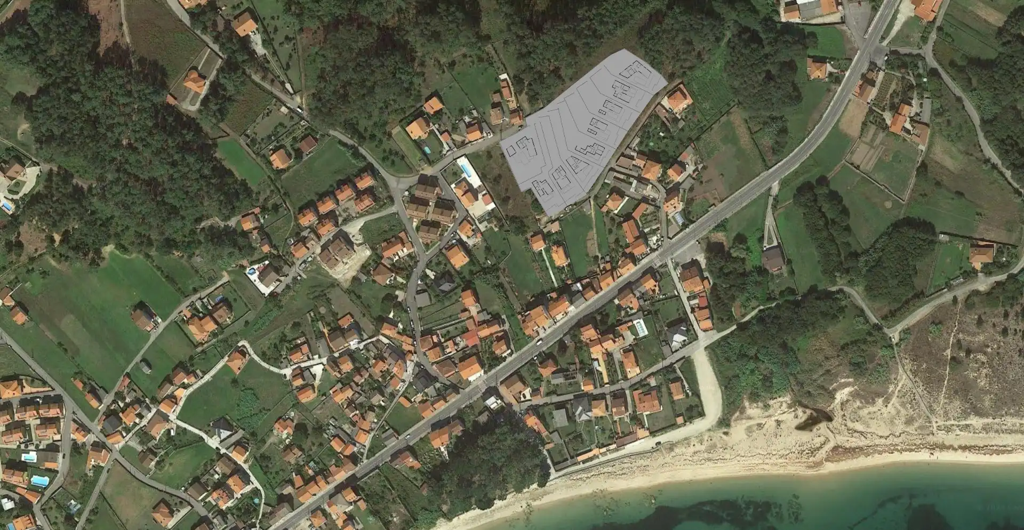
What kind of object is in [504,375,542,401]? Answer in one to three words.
house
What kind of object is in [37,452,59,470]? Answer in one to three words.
building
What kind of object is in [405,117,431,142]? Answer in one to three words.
house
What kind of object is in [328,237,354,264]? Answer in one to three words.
building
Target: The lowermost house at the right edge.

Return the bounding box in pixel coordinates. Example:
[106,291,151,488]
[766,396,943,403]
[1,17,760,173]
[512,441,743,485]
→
[969,242,996,279]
